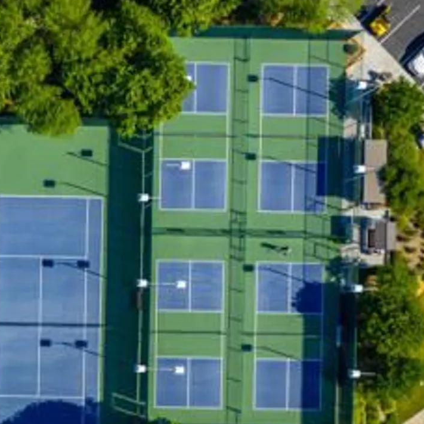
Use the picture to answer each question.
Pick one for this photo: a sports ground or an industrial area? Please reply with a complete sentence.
What you see here is a sports ground.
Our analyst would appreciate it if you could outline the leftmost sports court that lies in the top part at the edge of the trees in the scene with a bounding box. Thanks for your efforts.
[160,63,231,211]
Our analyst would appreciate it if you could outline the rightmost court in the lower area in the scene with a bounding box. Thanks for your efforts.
[254,262,324,411]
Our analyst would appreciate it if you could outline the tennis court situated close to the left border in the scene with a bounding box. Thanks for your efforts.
[0,195,104,424]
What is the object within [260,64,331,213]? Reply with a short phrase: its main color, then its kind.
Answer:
blue sports court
